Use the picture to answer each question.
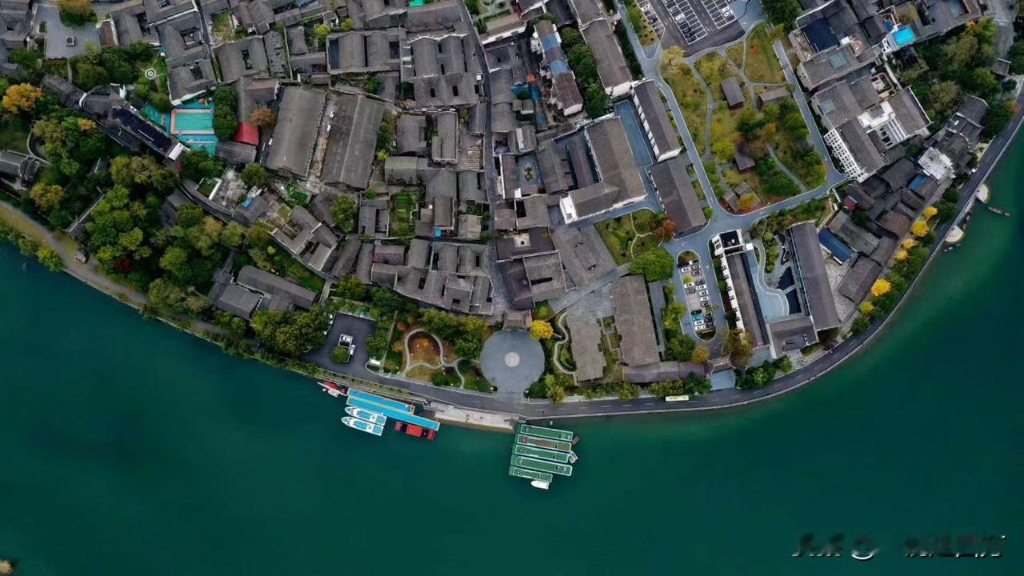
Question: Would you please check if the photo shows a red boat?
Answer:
Yes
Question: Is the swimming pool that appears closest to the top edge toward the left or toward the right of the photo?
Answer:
right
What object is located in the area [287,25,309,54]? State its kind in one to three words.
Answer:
house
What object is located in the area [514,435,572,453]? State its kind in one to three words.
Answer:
vessel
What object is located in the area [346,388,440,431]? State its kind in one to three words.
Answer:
pier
